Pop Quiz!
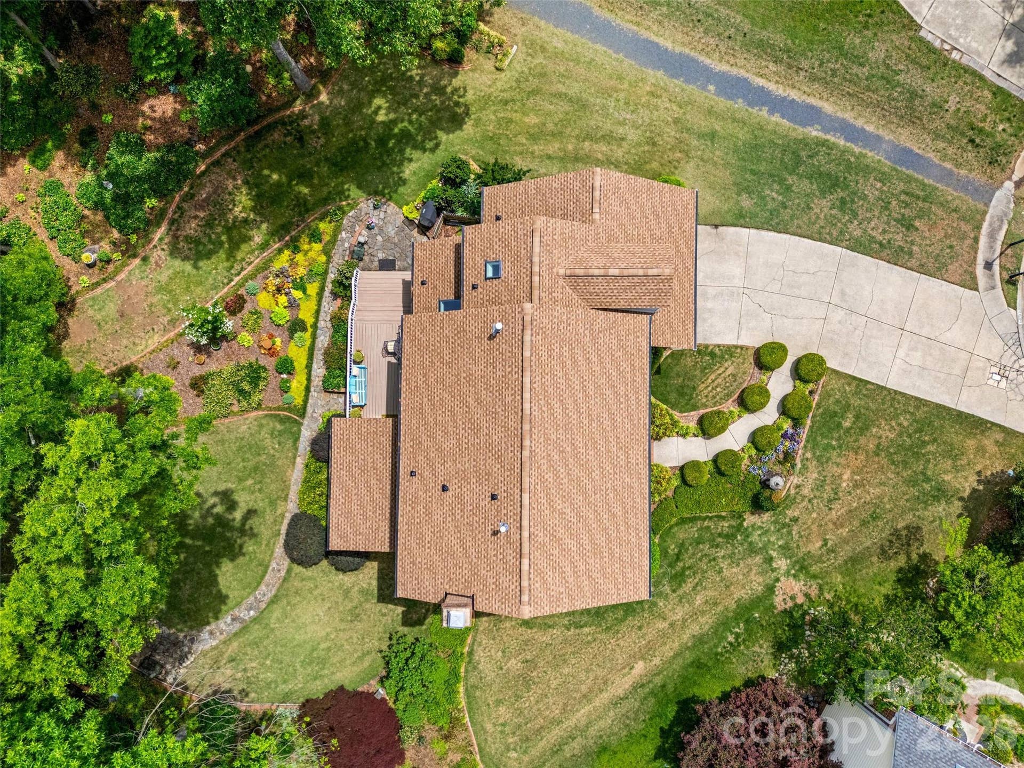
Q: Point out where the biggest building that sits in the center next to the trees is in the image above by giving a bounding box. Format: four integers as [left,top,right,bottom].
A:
[325,168,700,628]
